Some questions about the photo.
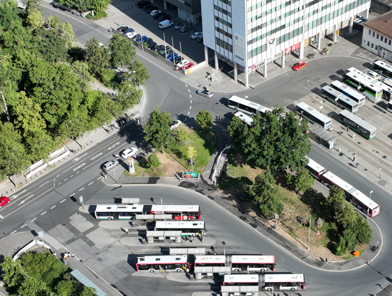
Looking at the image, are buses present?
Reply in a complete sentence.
Yes, there's a bus down there.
